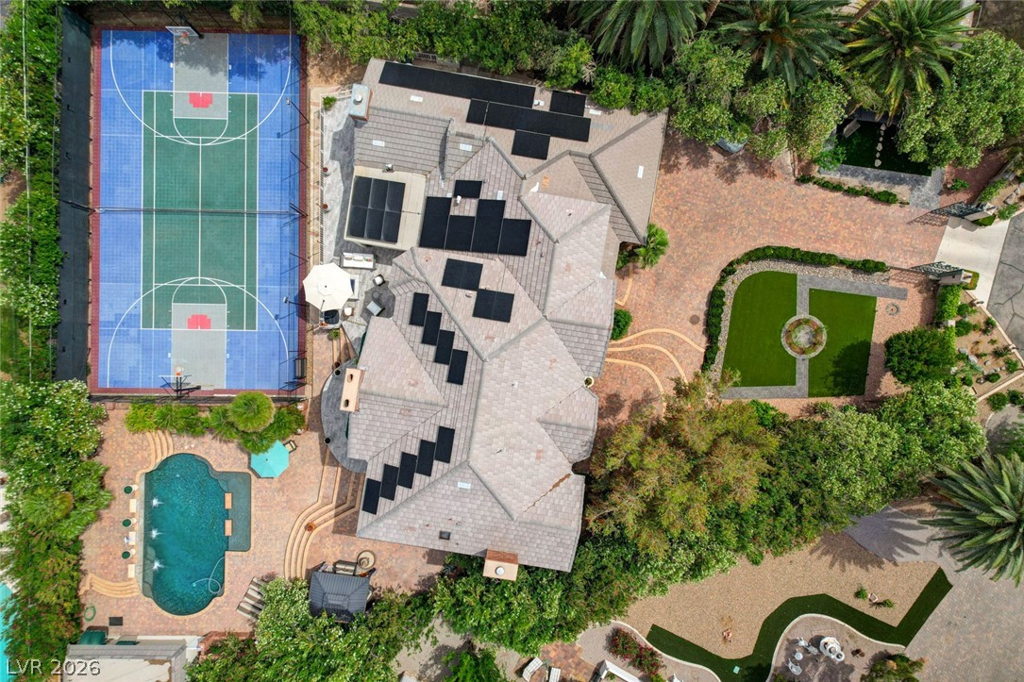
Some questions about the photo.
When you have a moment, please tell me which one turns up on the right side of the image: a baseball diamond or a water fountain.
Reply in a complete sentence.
Looking on the right side of the image, you will find a water fountain.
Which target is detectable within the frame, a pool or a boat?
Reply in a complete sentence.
I can see a pool in this picture.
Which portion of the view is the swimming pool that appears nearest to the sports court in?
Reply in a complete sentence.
The swimming pool that appears nearest to the sports court is in the bottom left part of the image.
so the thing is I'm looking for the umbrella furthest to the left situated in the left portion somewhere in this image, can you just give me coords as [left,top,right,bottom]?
[252,439,291,478]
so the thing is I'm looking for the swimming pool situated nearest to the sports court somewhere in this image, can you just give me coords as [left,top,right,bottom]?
[137,449,255,620]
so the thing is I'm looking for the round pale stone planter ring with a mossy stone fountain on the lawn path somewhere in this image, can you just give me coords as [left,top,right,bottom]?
[782,314,829,360]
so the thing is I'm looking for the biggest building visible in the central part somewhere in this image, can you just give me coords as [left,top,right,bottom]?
[340,59,668,581]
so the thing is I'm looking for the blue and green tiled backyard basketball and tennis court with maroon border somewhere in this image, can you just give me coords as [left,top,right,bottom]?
[90,26,306,395]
